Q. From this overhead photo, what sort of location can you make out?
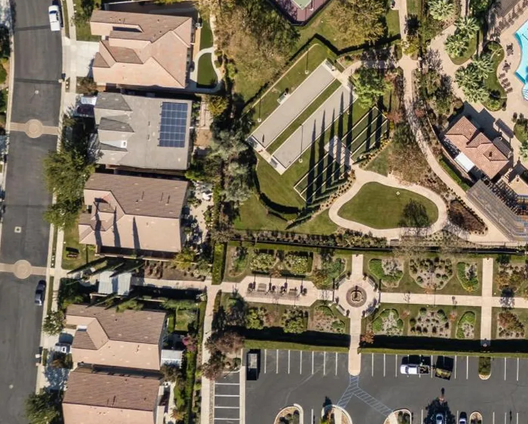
residential area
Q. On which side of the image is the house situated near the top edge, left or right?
left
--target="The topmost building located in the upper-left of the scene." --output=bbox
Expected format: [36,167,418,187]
[88,10,196,88]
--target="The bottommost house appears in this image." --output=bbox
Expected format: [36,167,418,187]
[59,369,166,424]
